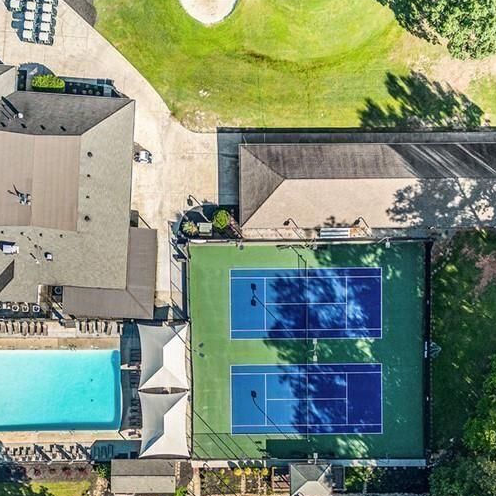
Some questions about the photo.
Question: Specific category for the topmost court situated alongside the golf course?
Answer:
tennis court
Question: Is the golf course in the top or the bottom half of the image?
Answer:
top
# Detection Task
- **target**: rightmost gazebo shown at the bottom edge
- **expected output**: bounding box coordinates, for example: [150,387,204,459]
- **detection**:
[274,463,346,496]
